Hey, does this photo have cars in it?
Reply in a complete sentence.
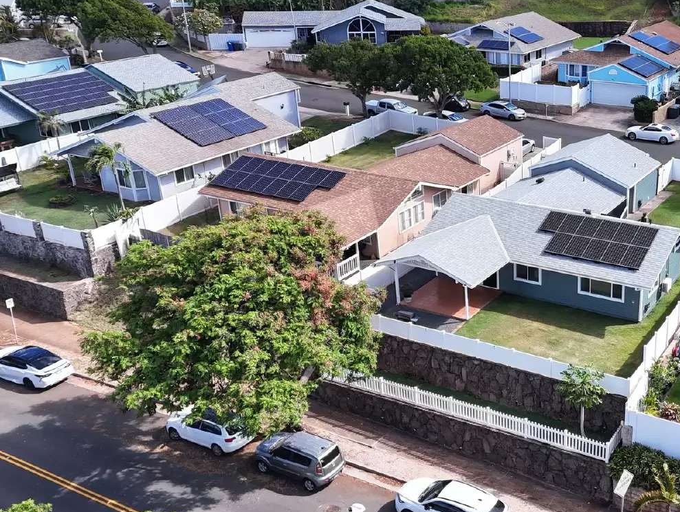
Yes, the photo shows a car.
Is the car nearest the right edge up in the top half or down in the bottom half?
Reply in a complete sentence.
Seen from above, the car nearest the right edge lies in the top half of the view.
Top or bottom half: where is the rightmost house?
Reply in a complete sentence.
The rightmost house is in the top half of the image.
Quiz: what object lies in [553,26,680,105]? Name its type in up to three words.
house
